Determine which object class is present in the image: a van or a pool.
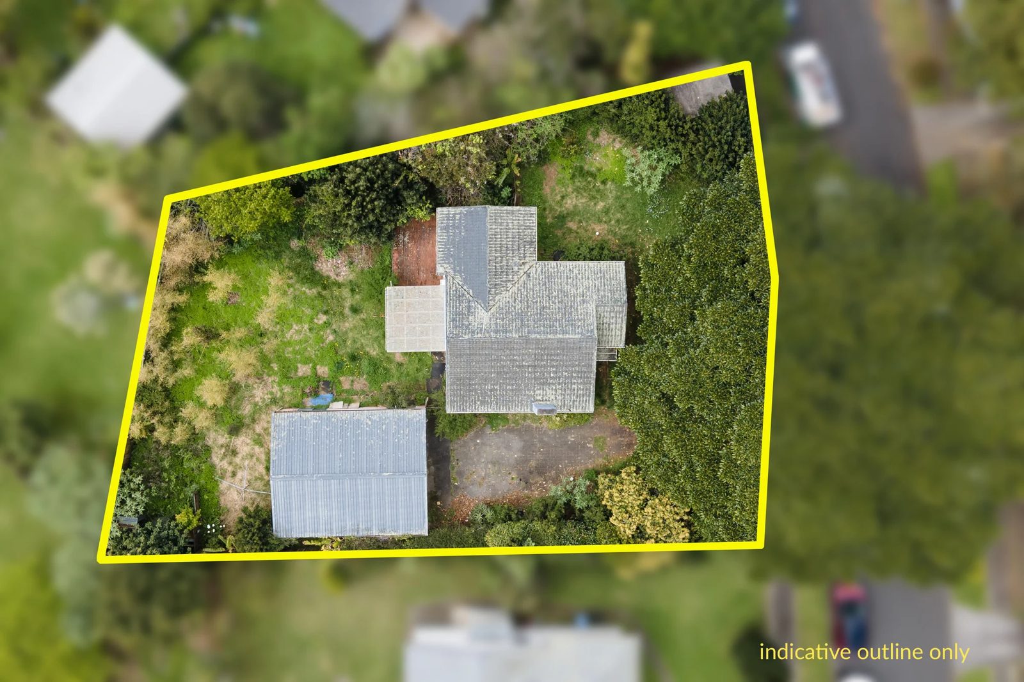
van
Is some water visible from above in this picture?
No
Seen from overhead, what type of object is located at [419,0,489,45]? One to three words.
house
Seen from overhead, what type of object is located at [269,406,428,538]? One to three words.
building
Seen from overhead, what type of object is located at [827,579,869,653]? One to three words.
car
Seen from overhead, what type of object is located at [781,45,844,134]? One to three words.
van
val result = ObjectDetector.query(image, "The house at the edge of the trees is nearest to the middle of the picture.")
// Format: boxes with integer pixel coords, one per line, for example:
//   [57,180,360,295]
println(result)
[435,201,631,415]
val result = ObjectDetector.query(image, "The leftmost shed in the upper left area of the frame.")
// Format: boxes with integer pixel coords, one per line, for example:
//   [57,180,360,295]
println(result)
[53,23,189,156]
